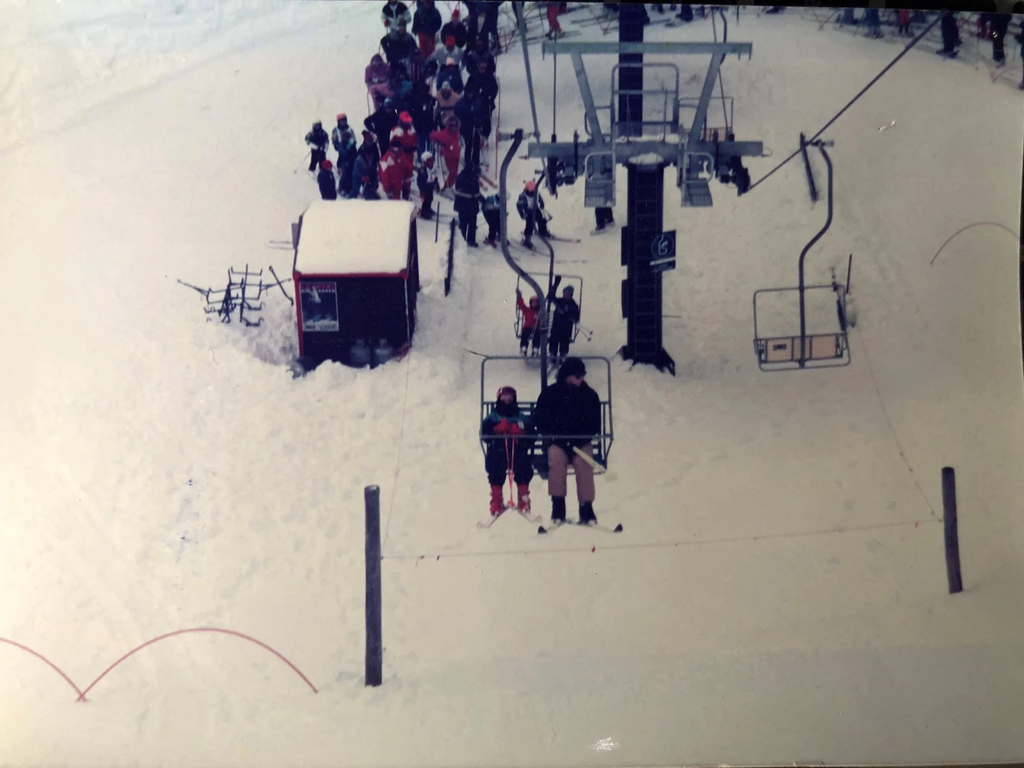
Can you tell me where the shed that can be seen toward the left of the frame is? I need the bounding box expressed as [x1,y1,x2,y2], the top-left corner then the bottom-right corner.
[286,204,419,381]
